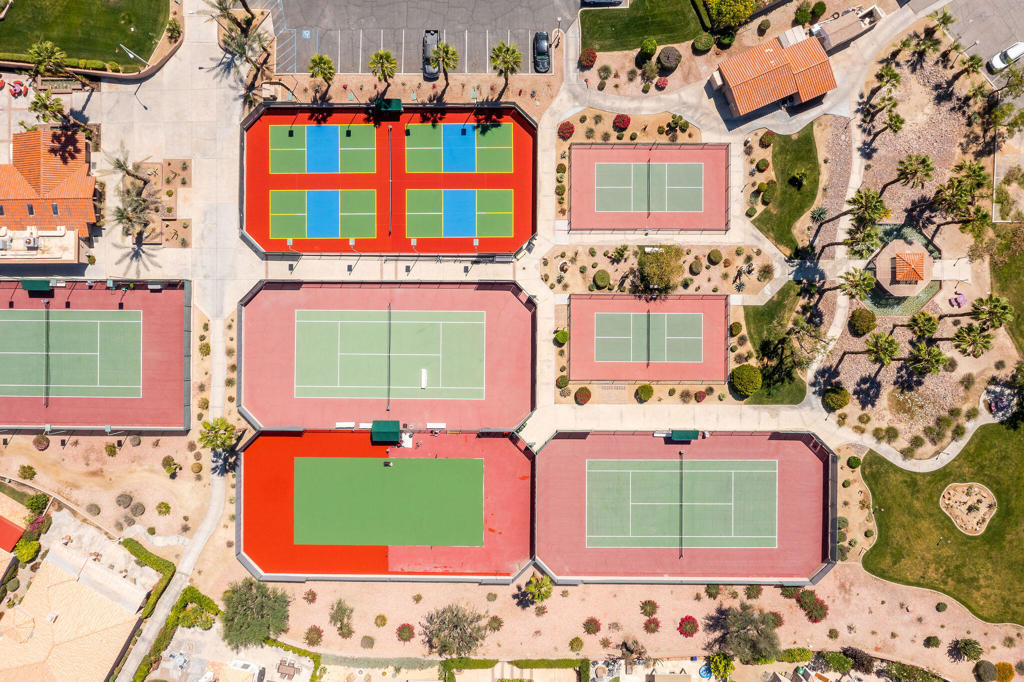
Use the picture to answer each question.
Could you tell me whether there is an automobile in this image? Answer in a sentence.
Yes, an automobile appears in the view.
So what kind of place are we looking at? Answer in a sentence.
This looks like a sports ground.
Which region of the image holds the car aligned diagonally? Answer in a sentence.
Look in the top right portion of the view to spot the car aligned diagonally.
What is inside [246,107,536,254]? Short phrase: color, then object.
red sports court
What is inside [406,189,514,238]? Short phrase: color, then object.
green sports court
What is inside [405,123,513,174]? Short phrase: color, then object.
green sports court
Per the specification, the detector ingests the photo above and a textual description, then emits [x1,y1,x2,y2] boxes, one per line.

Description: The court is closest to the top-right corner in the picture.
[572,145,728,228]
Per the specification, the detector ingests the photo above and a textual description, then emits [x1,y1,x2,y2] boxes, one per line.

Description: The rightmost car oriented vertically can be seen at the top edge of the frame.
[533,31,551,72]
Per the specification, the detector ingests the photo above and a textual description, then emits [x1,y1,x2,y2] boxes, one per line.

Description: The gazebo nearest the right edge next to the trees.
[877,239,935,296]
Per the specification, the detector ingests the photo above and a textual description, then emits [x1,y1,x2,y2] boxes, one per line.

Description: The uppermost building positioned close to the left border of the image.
[0,127,101,265]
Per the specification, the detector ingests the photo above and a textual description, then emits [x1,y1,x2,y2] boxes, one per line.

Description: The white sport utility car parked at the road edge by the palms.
[989,42,1024,74]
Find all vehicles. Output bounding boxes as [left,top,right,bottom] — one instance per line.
[583,0,623,6]
[421,29,439,79]
[989,42,1024,74]
[533,31,551,72]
